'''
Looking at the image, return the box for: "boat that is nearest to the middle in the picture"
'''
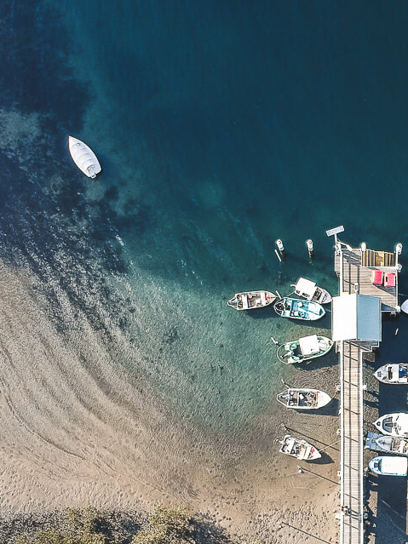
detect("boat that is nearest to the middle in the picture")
[224,291,278,311]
